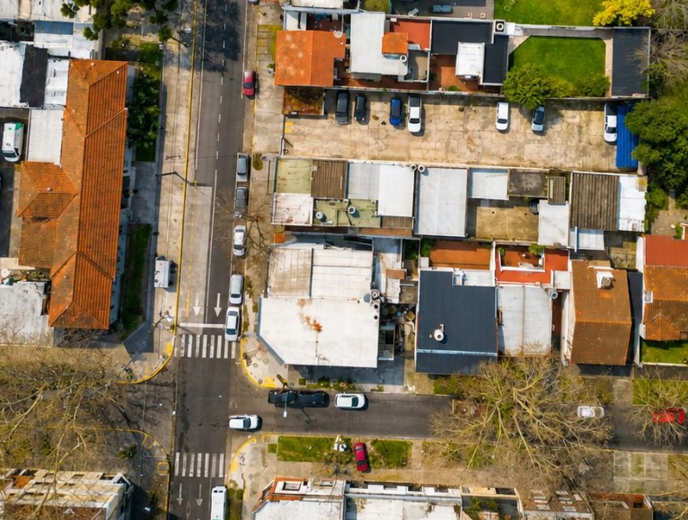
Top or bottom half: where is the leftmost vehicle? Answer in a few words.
top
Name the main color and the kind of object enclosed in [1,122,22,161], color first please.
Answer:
white vehicle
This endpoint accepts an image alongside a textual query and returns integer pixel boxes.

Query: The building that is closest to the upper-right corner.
[608,27,649,97]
